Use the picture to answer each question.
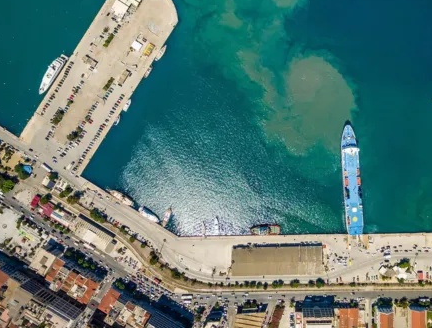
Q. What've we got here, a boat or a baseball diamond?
boat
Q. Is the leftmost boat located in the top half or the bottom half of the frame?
top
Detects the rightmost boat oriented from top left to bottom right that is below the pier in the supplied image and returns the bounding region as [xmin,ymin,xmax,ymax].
[138,206,160,222]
